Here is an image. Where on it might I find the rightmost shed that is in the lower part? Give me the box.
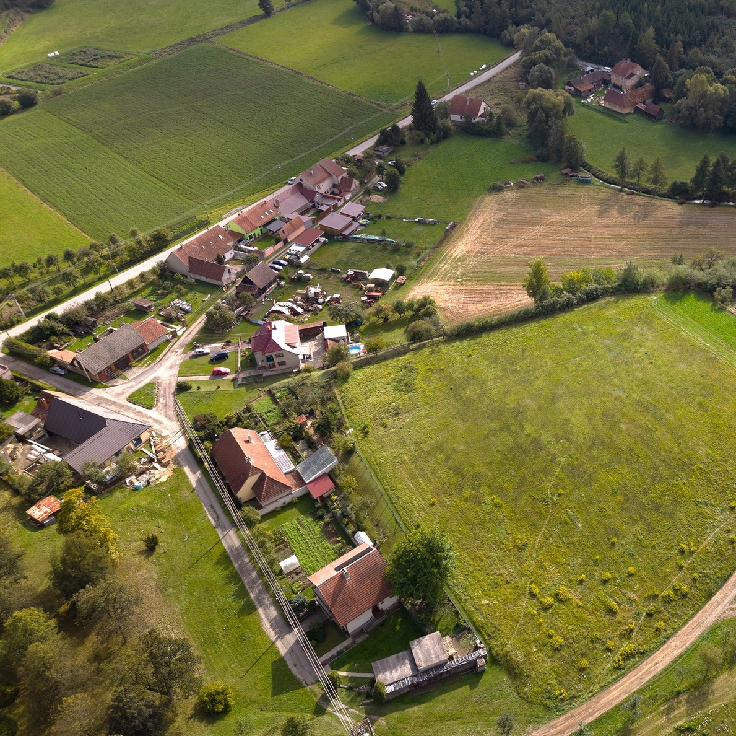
[410,632,448,673]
